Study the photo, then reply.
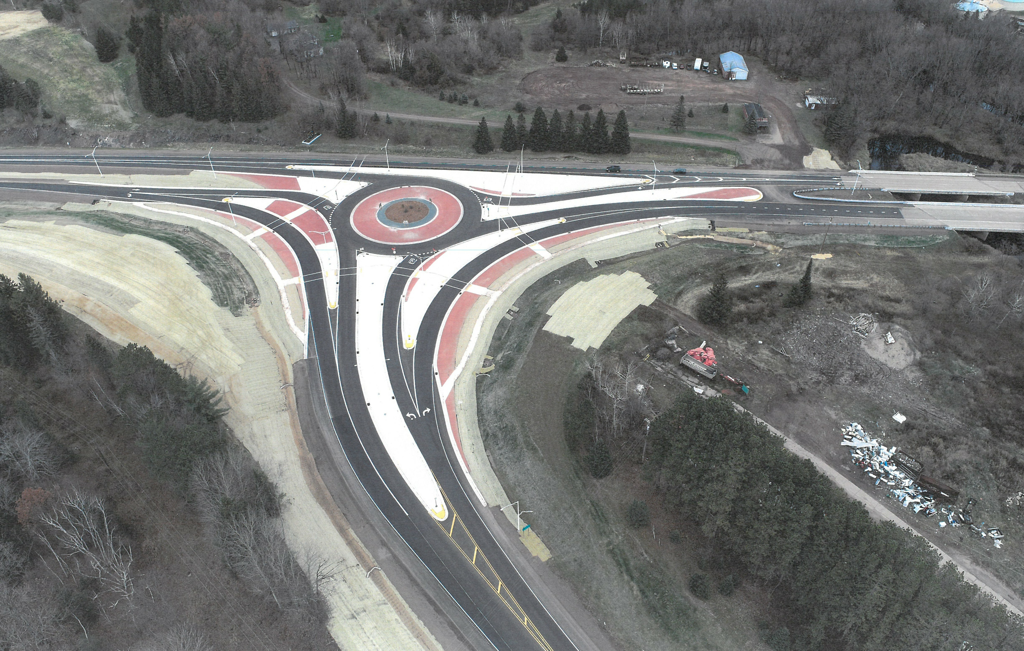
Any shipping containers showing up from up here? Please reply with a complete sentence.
Yes, a shipping container can be made out from above.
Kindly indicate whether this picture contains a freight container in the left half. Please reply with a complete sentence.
No, the scene shows no freight container in the left half.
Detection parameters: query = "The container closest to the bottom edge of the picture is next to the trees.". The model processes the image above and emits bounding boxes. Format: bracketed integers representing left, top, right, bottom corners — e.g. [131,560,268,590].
[915,474,959,507]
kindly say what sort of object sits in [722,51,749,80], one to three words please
shed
